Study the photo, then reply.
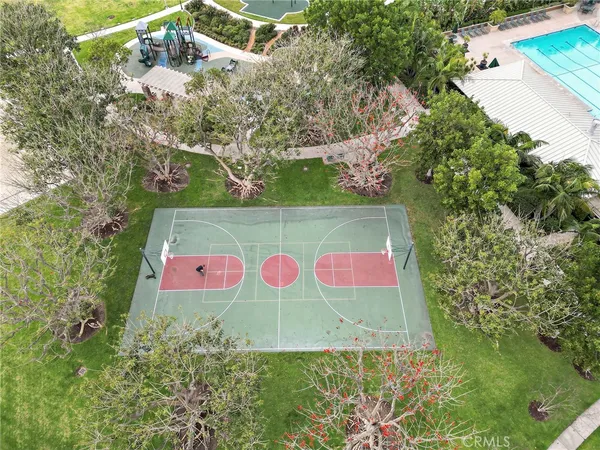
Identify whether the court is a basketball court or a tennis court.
basketball court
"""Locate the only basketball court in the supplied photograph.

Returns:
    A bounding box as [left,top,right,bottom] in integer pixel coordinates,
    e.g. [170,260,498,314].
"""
[117,205,437,356]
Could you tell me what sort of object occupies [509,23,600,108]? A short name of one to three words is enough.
swimming pool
